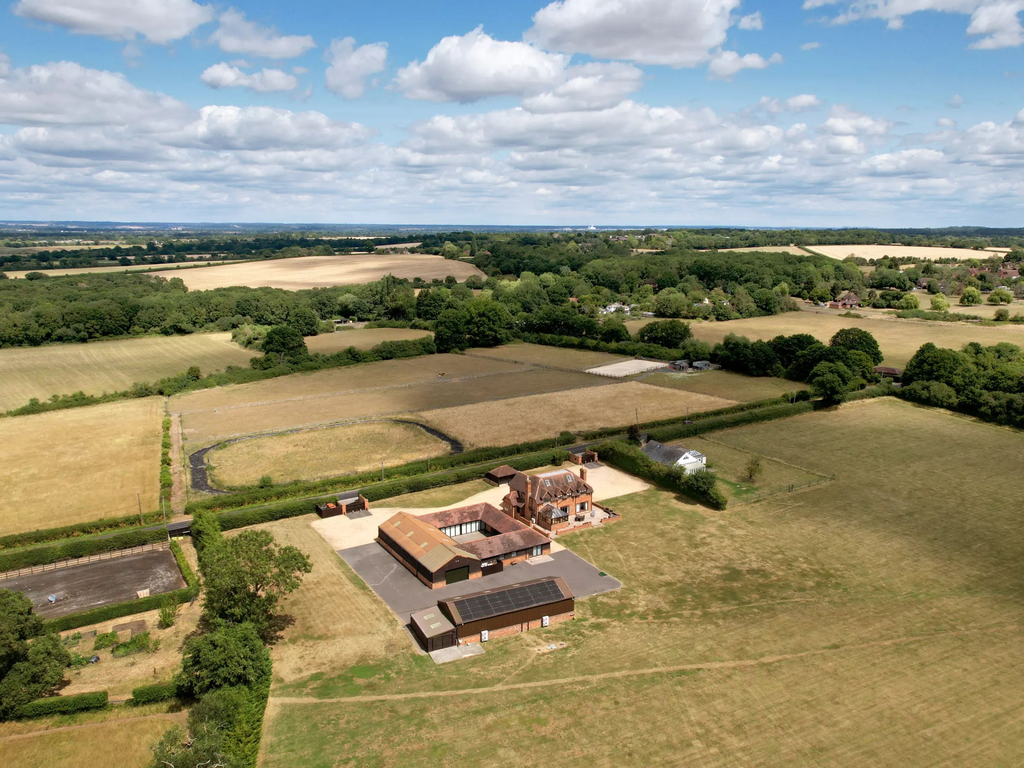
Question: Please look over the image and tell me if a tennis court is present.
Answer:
No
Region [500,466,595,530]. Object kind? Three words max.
house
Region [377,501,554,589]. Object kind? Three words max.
barn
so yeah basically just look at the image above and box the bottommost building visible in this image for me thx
[407,573,579,652]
